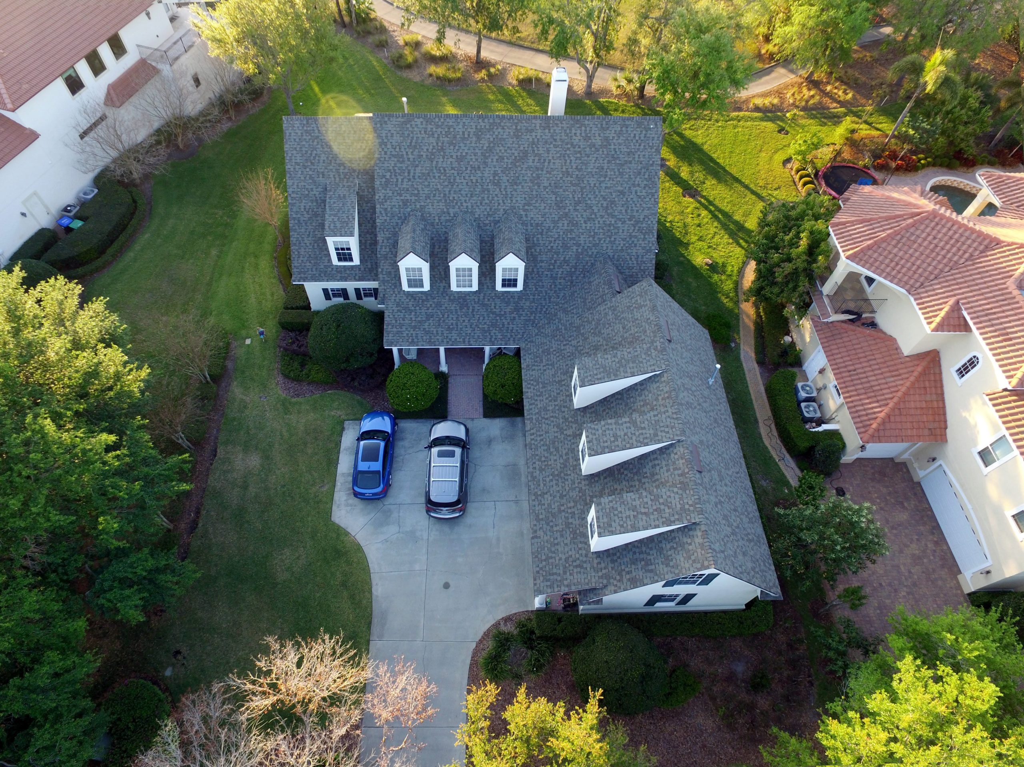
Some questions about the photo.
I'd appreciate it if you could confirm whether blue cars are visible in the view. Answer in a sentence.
Yes, there's a blue car down there.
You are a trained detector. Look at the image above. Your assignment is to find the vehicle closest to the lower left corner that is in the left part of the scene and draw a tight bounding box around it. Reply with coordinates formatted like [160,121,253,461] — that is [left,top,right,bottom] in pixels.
[349,411,398,504]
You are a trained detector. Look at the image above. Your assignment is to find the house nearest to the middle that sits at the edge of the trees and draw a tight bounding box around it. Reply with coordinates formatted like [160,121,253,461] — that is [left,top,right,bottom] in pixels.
[282,63,782,615]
